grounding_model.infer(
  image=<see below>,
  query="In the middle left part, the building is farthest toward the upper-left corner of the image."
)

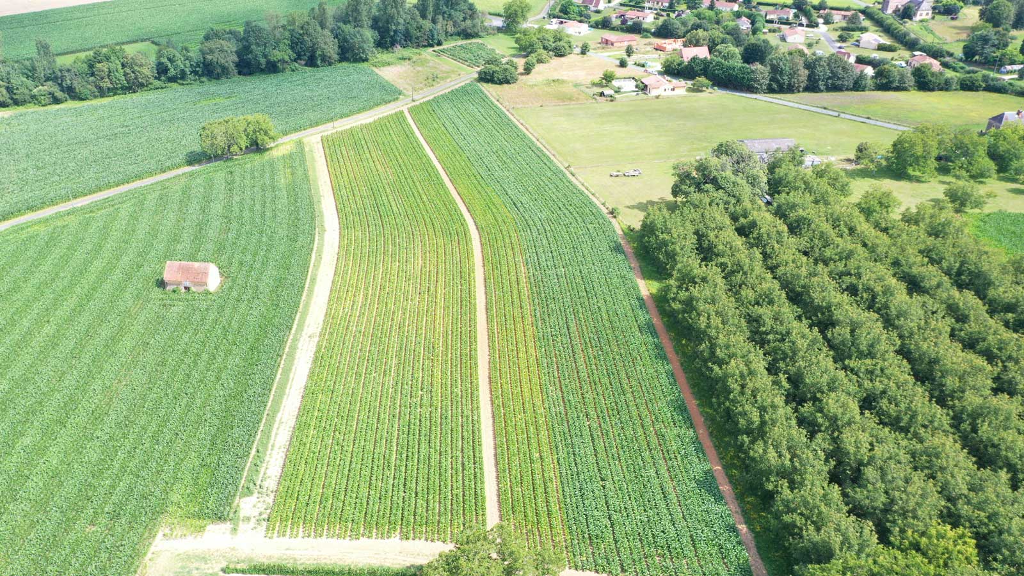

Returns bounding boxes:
[161,261,222,292]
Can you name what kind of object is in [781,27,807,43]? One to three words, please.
house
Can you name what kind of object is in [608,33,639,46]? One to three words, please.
house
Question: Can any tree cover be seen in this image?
Yes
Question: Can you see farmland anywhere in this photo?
Yes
